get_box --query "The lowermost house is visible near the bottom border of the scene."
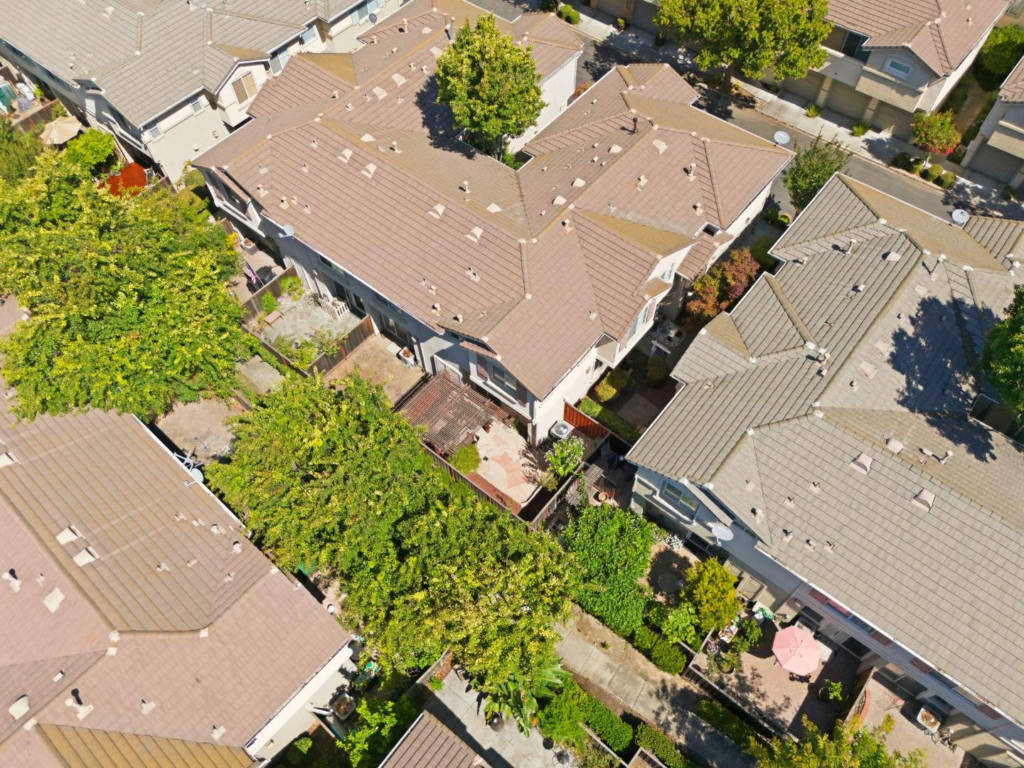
[373,704,499,768]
